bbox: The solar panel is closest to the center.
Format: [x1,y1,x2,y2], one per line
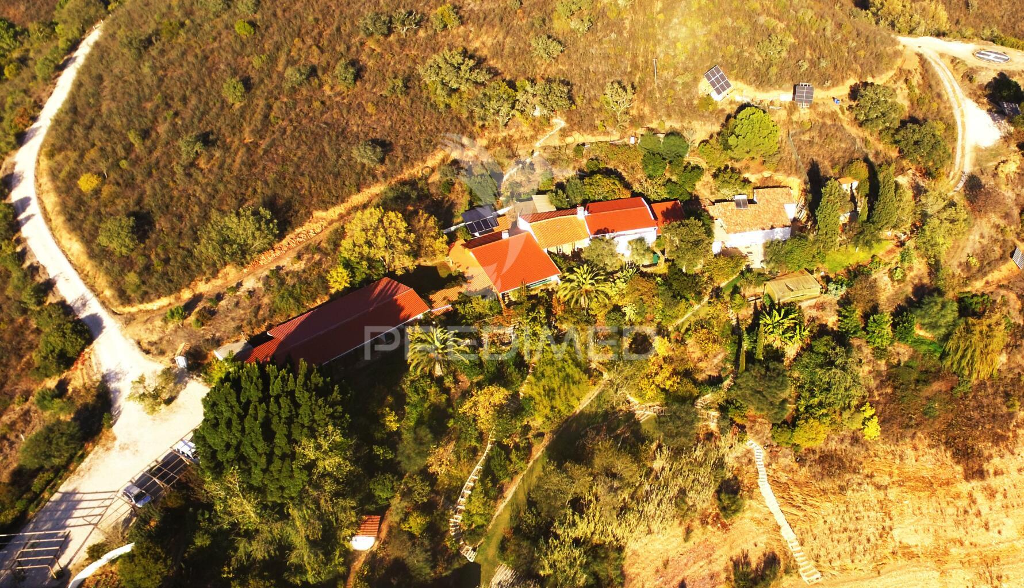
[466,216,496,236]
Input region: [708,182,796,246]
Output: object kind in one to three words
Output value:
house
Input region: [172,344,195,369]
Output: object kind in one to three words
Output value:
shed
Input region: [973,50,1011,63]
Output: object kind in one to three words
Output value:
helipad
